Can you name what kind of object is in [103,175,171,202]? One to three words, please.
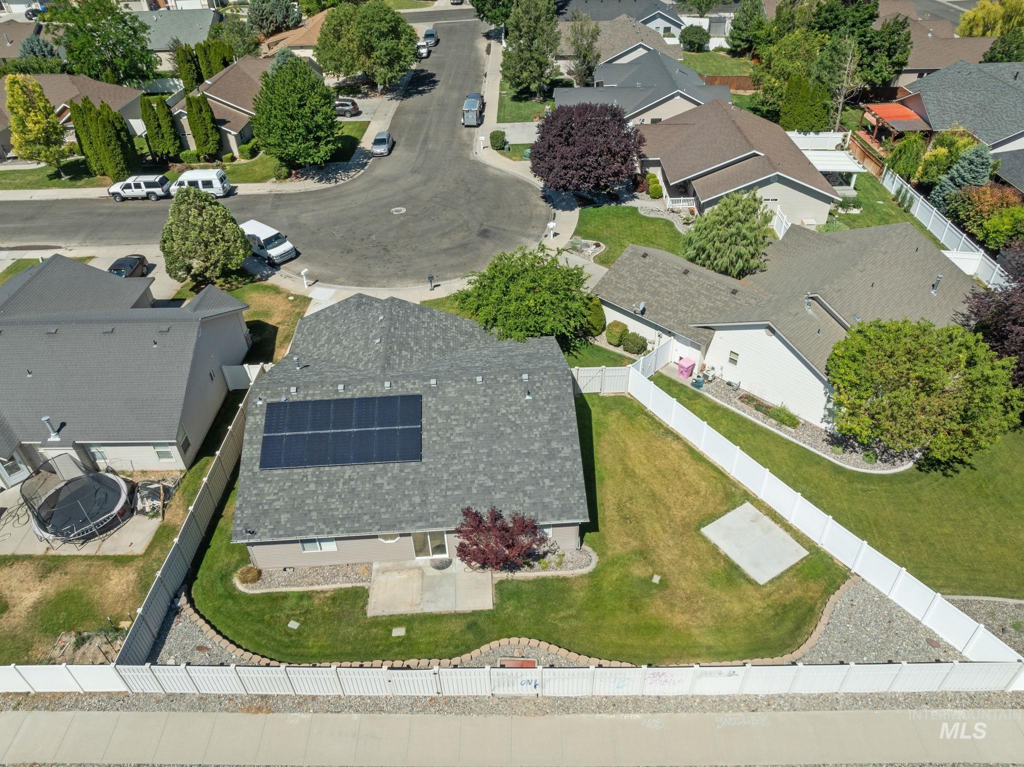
car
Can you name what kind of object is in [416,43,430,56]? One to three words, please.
vehicle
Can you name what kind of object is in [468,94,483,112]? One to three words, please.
car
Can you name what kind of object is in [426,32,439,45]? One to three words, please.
vehicle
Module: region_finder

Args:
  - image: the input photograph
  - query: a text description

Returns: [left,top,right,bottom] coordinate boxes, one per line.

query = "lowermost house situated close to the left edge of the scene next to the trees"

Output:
[0,250,258,495]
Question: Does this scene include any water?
No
